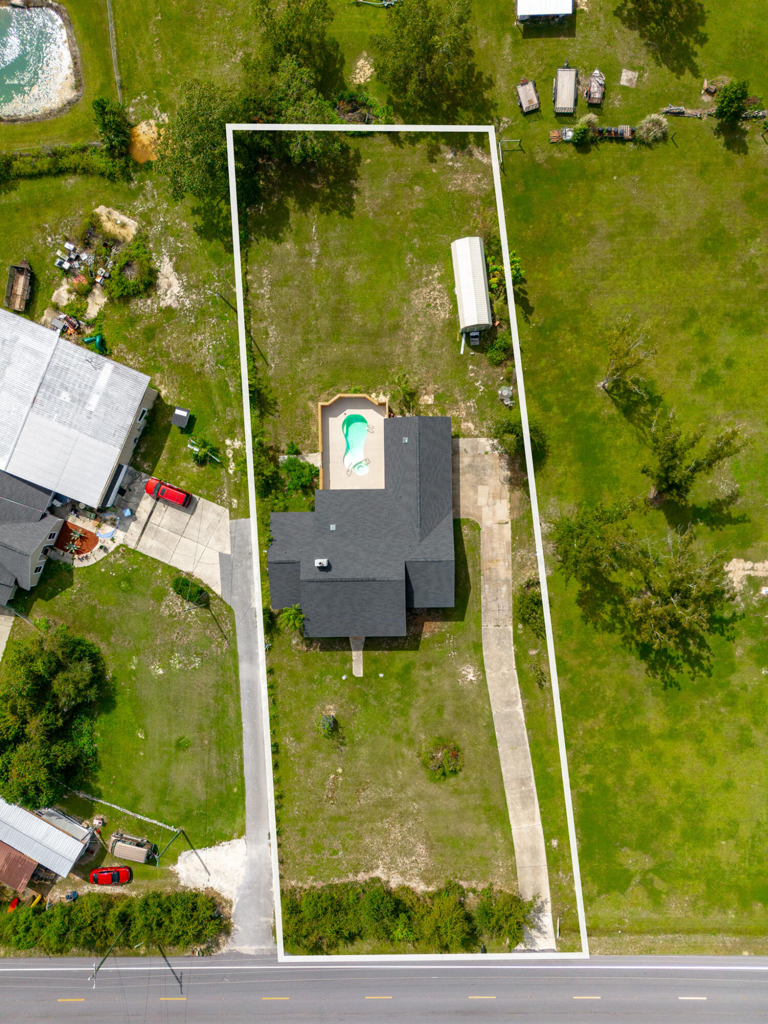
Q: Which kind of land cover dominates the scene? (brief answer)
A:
grass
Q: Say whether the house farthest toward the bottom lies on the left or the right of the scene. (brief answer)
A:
left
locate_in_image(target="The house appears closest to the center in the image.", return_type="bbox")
[267,416,455,640]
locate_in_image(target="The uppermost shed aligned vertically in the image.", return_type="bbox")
[453,233,493,332]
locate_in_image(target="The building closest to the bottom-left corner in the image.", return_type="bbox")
[0,780,96,893]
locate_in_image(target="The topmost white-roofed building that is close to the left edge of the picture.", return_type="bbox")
[0,313,158,508]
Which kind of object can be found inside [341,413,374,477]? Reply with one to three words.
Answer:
swimming pool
